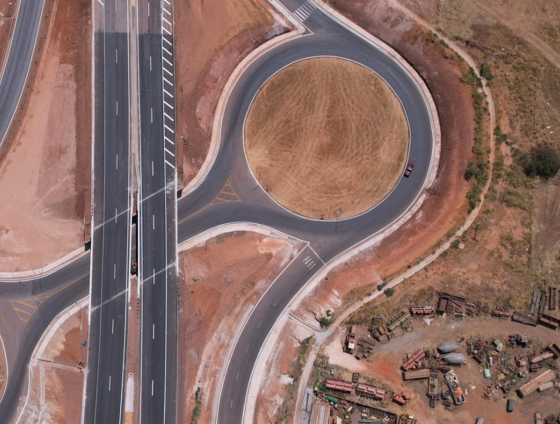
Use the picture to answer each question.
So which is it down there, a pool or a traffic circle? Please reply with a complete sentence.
This aerial view contains a traffic circle.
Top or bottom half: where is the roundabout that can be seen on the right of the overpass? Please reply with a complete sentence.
Seen from above, the roundabout that can be seen on the right of the overpass lies in the top half of the view.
